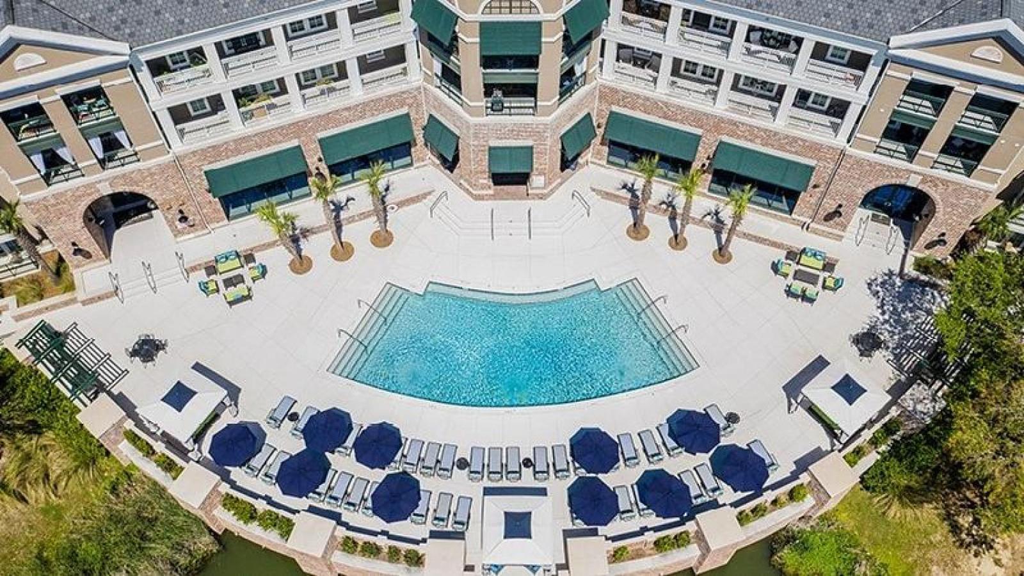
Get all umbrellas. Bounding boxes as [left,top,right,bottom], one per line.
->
[568,480,616,529]
[712,446,765,498]
[668,411,718,457]
[276,449,330,499]
[569,430,616,474]
[304,411,352,454]
[354,425,404,471]
[213,421,267,471]
[372,475,421,523]
[638,469,691,521]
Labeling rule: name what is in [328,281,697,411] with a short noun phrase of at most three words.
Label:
swimming pool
